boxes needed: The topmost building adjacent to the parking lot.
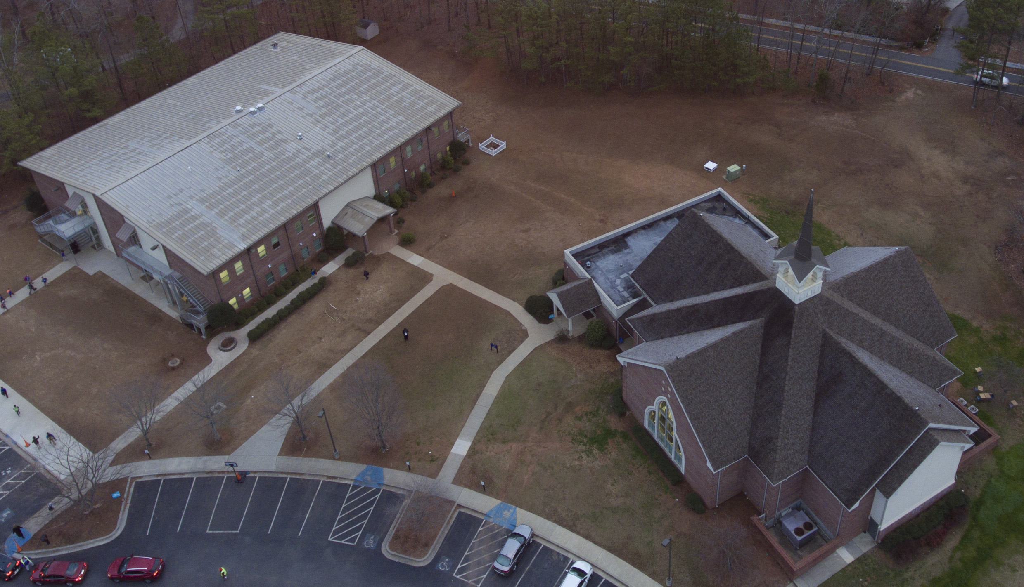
[18,31,461,311]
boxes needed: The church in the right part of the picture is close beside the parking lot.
[564,189,980,559]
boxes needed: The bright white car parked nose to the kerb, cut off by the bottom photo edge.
[557,559,593,587]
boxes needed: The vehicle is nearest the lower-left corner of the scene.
[0,552,20,582]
